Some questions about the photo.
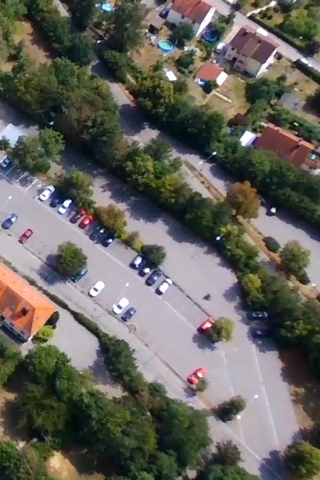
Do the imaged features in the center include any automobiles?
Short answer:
Yes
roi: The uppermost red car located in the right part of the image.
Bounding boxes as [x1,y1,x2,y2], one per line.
[196,317,215,335]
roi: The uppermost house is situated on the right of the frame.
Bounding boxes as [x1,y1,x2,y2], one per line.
[168,0,221,29]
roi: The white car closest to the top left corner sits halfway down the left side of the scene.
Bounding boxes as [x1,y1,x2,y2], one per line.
[37,185,55,202]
